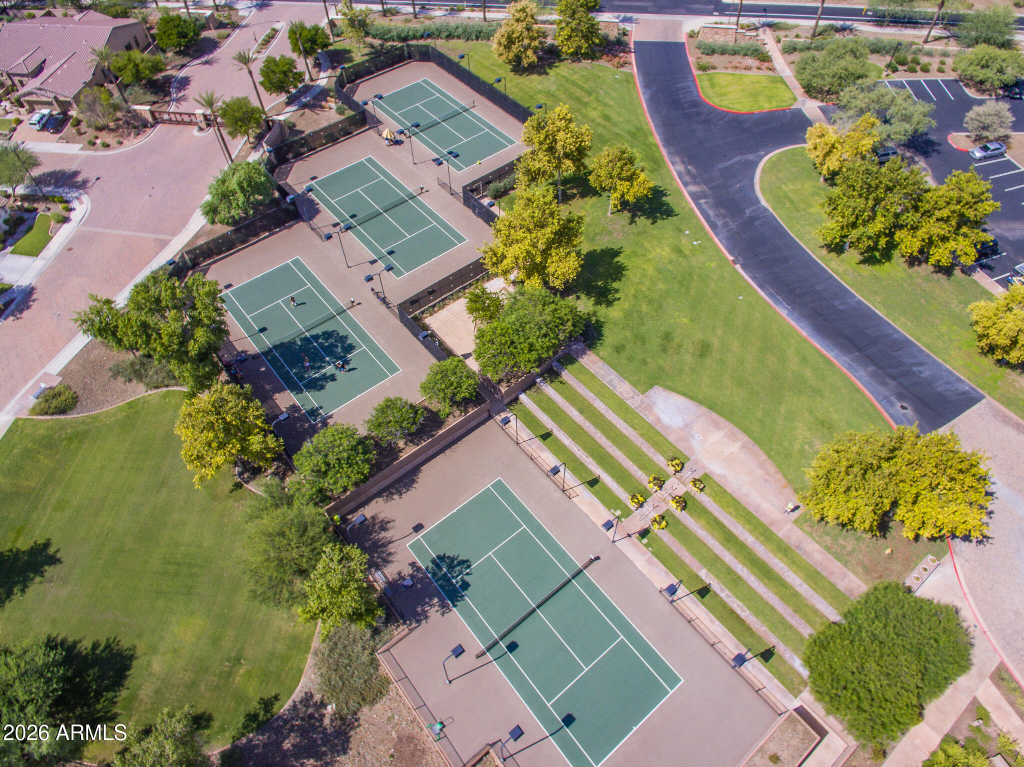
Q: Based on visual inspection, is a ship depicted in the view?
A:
No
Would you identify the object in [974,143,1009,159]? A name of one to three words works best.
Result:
car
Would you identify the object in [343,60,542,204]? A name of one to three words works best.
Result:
tennis court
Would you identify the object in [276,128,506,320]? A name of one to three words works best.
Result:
tennis court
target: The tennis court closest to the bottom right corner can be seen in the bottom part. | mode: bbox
[335,417,781,767]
